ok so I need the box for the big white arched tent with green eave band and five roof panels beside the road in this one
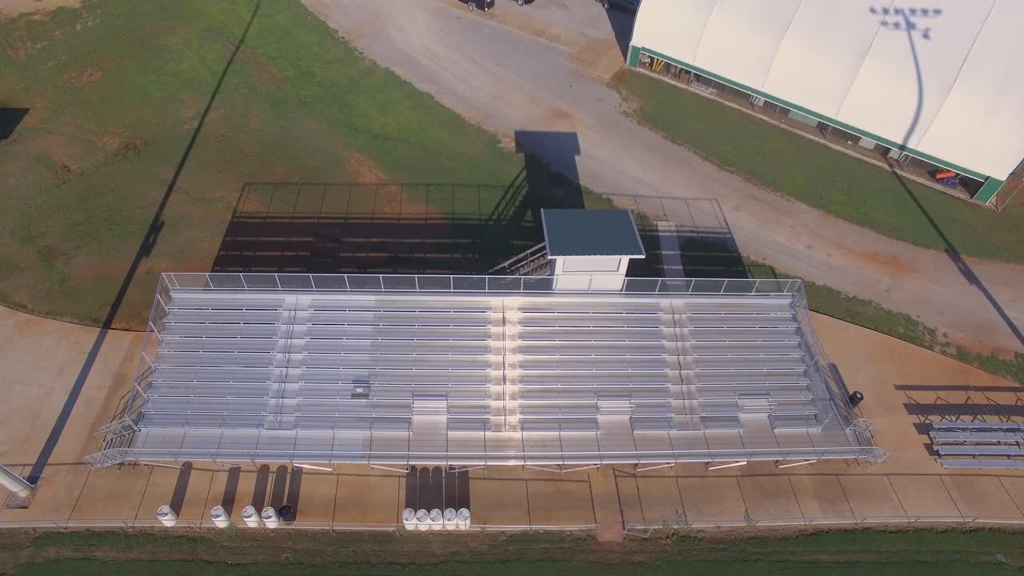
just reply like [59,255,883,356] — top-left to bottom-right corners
[624,0,1024,207]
